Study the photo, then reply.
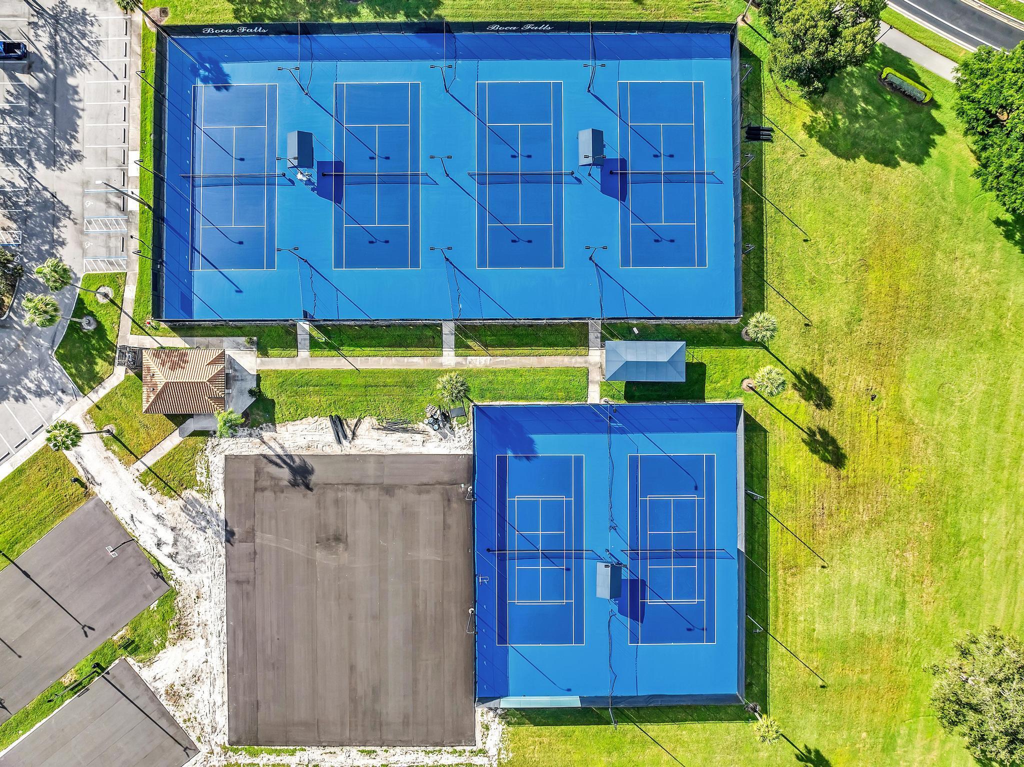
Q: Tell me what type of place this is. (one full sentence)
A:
What you see here is a sports ground.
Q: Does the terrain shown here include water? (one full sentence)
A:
No, water can't be seen anywhere here.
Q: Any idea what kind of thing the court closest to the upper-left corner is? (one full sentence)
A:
The court closest to the upper-left corner appears to be a tennis court.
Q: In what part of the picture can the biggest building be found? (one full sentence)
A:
Look in the left portion of the view to spot the biggest building.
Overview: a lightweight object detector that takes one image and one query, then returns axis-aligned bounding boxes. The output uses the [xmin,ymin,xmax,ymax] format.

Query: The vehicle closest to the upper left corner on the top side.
[0,40,28,61]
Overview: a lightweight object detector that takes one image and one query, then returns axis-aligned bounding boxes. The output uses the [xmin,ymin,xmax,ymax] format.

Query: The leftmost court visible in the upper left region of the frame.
[177,84,283,270]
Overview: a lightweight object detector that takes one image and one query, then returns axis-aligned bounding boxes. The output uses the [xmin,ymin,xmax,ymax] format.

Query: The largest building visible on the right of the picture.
[605,341,686,382]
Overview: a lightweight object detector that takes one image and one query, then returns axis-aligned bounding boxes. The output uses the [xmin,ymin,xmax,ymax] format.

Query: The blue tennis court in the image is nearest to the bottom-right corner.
[623,454,726,645]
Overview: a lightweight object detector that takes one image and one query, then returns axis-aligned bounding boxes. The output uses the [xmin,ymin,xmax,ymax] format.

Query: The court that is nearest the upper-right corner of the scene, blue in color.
[613,81,715,268]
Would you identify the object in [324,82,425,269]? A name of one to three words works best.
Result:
tennis court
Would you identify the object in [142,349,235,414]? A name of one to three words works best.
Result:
building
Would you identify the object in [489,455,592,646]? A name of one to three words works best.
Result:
tennis court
